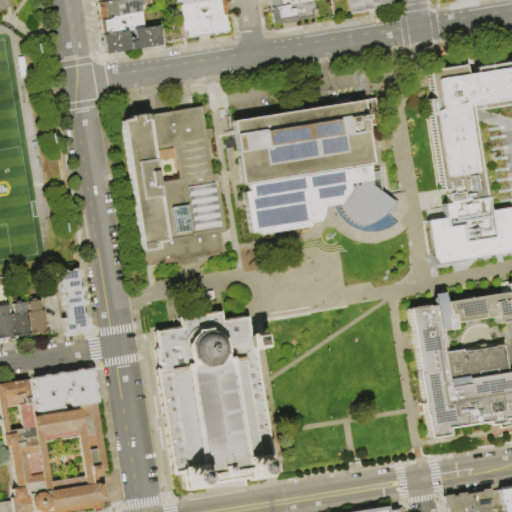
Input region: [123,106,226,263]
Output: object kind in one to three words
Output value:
building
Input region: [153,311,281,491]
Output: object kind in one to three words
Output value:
building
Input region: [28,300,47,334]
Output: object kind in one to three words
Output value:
house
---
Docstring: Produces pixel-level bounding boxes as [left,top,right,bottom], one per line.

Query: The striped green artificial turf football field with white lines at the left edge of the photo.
[0,34,43,268]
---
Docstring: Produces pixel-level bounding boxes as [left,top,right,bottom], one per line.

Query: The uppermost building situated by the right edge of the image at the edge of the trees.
[426,58,512,202]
